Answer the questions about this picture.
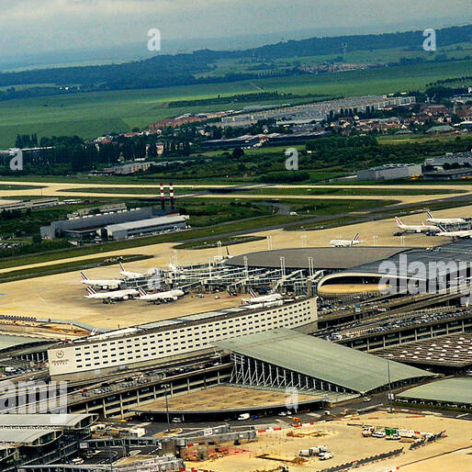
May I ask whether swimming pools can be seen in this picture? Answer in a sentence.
No, no swimming pool is visible in the scene.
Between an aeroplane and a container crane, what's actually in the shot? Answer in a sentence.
It is an aeroplane that can be seen here.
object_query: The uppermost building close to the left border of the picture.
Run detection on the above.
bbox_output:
[0,140,63,157]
